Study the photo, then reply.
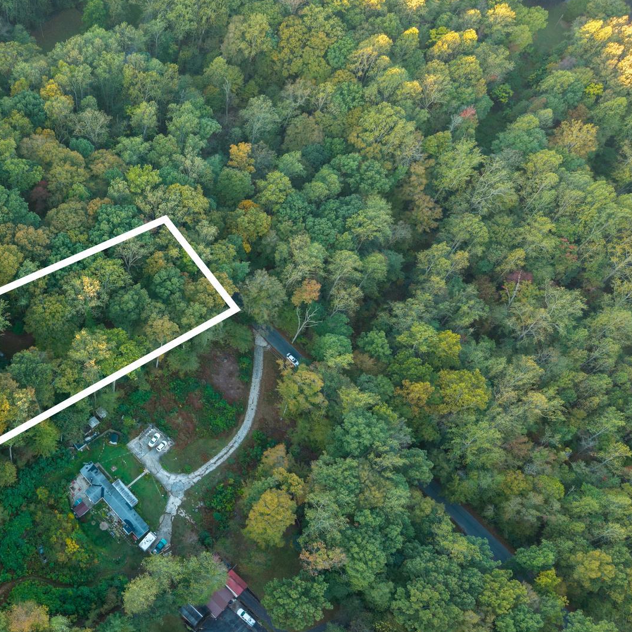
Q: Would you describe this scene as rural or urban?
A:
rural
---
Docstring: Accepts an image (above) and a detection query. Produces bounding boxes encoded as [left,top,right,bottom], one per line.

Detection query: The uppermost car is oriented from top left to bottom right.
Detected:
[285,353,301,368]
